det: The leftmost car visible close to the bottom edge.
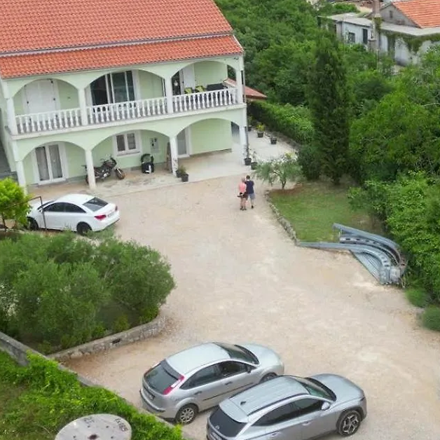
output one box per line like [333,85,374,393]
[141,336,290,424]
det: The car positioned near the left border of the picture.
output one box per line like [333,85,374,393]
[15,193,125,238]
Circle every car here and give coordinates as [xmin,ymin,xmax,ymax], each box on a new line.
[210,371,375,440]
[141,336,290,424]
[15,193,125,238]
